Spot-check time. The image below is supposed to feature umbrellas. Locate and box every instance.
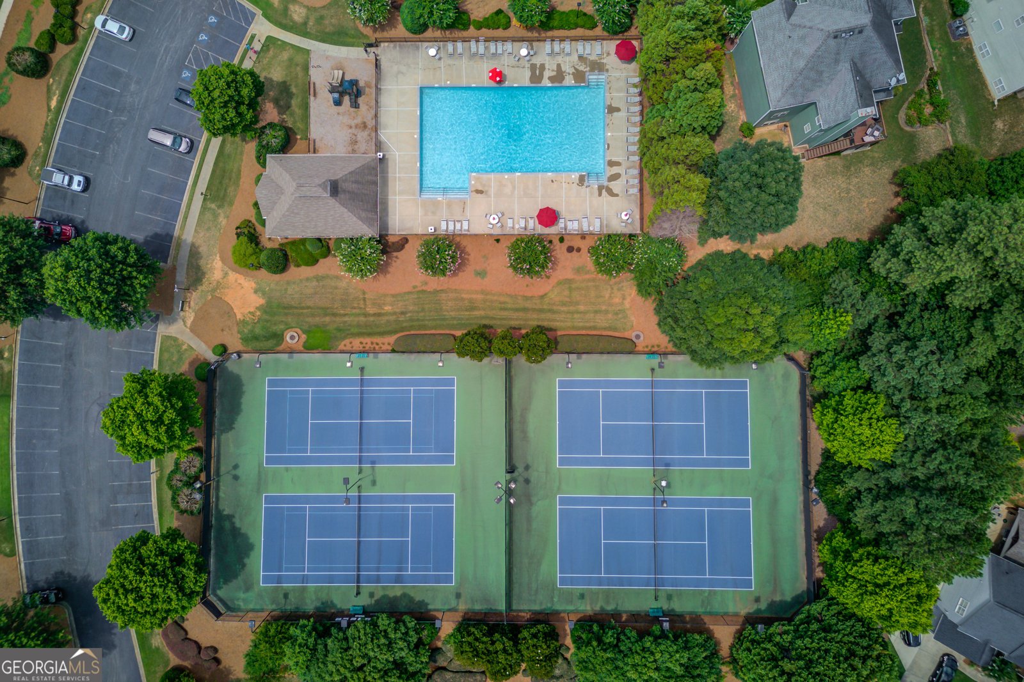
[615,41,636,62]
[489,69,502,85]
[537,207,558,228]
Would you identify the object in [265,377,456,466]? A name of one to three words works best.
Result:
tennis court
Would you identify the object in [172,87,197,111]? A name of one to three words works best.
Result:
car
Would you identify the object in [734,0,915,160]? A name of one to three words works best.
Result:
building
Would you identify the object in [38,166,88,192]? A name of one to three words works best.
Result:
truck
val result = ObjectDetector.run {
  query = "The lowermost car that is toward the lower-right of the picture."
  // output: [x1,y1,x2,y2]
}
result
[925,650,956,682]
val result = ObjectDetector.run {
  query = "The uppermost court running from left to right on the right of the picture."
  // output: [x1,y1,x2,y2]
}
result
[557,379,750,469]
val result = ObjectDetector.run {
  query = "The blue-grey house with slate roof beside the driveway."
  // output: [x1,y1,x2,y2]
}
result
[923,552,1024,678]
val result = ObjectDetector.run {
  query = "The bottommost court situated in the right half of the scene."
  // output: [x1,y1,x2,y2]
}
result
[558,496,753,590]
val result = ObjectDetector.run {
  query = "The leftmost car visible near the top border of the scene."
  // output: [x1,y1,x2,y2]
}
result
[94,15,135,41]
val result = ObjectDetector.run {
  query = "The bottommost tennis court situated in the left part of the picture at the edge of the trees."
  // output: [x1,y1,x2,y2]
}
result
[261,494,455,585]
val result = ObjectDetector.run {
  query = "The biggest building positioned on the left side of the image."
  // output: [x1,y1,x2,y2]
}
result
[255,154,380,238]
